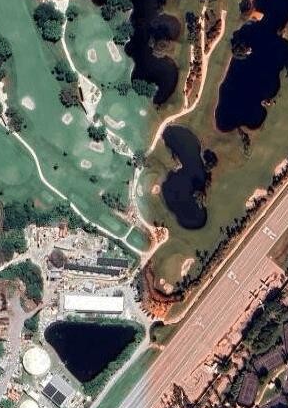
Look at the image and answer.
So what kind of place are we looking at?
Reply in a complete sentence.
The picture captures a golf course.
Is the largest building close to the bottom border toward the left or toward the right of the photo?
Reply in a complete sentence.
The largest building close to the bottom border is on the left side of the image.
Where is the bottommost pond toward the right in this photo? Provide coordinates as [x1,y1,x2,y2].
[162,124,207,230]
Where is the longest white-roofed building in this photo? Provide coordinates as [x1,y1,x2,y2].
[64,295,123,313]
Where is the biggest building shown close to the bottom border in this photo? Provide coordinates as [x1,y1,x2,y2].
[41,374,76,404]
